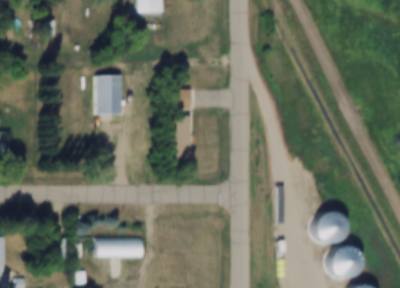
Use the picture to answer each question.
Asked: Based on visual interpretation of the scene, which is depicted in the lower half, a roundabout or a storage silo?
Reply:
storage silo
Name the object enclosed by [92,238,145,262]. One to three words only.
building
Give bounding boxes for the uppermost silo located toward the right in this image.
[308,209,349,246]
